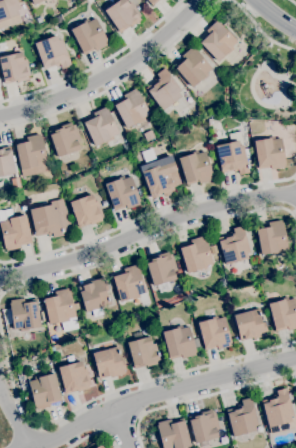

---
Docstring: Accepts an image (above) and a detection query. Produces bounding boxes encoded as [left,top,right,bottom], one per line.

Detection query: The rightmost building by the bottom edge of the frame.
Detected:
[264,391,296,432]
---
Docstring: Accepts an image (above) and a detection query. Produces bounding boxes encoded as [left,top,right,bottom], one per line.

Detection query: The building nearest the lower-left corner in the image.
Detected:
[30,372,62,409]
